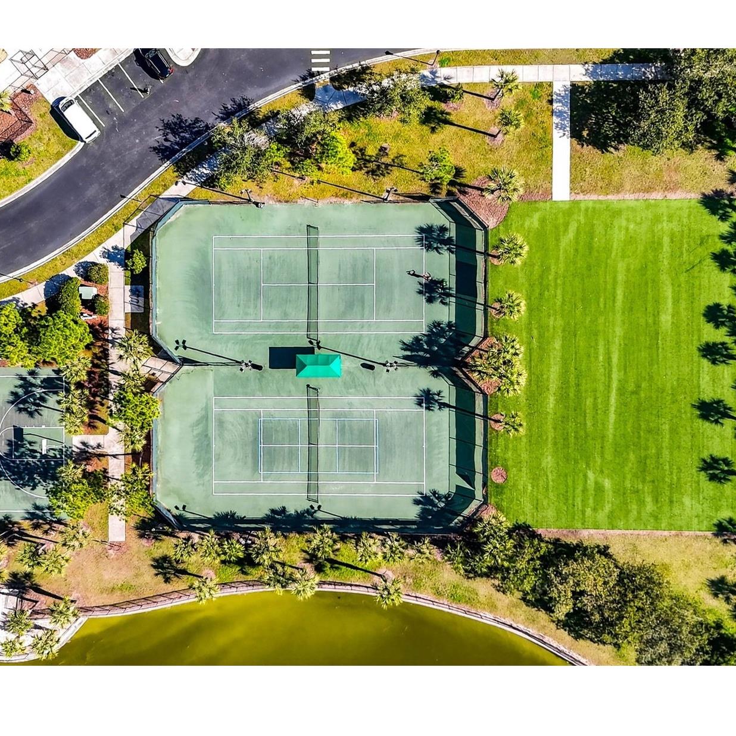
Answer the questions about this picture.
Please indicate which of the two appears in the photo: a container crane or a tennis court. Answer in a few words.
tennis court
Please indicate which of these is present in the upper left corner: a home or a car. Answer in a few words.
car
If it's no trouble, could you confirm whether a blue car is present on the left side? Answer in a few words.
No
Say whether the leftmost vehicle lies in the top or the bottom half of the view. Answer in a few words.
top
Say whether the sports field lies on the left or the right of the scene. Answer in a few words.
right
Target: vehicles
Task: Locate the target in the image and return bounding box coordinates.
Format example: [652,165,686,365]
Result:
[63,100,101,146]
[140,40,175,84]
